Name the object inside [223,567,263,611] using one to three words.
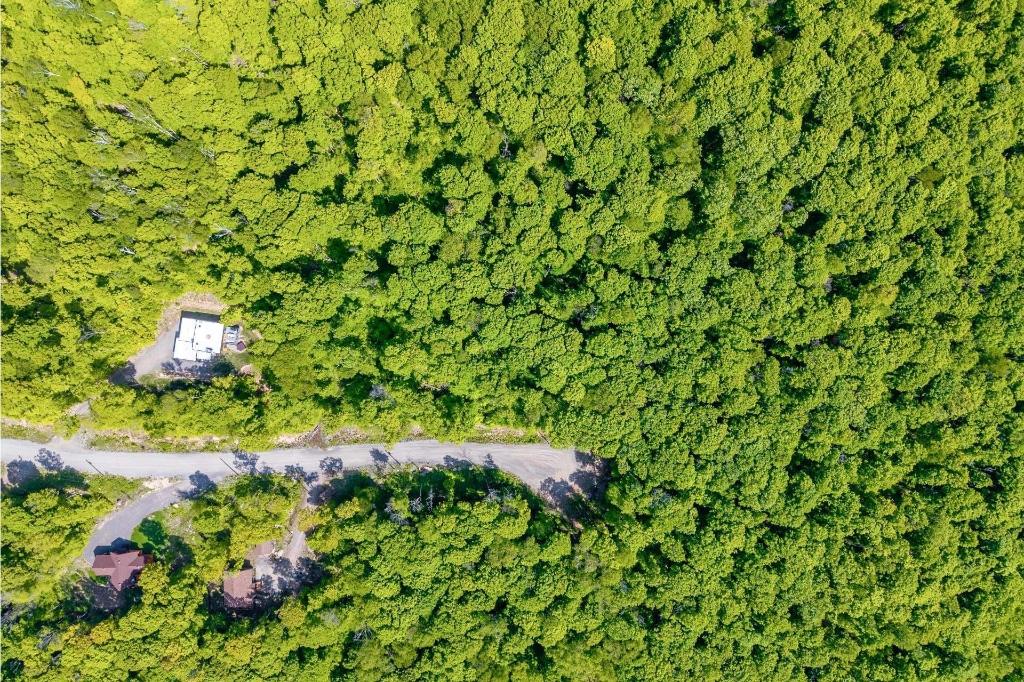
house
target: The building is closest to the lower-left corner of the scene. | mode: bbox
[92,549,154,591]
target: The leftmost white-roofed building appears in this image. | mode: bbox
[173,318,230,361]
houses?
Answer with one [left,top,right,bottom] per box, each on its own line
[223,567,263,611]
[92,549,154,591]
[173,318,230,361]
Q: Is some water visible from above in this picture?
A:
No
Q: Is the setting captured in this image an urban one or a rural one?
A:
rural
